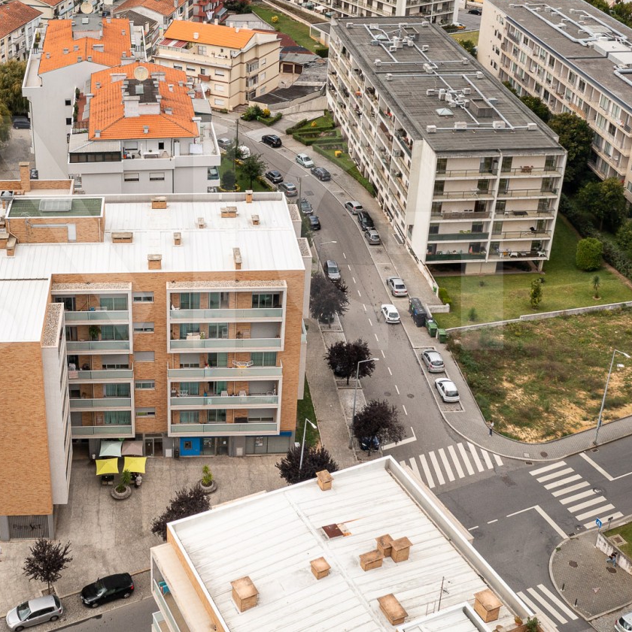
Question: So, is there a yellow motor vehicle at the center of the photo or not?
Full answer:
No, no yellow motor vehicle can be made out at the center of the photo.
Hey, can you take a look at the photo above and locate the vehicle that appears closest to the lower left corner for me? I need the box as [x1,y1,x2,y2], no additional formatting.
[2,594,67,632]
